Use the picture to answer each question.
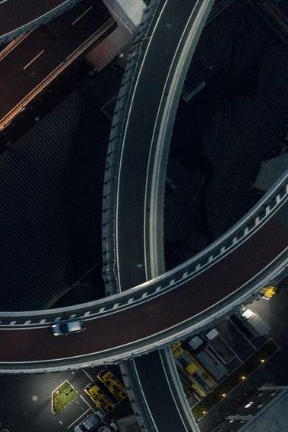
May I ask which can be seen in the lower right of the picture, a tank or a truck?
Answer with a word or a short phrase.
truck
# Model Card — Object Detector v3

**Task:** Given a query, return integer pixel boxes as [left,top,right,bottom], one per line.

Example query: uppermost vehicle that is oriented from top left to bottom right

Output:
[243,308,280,342]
